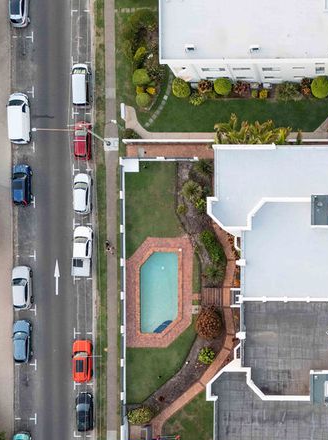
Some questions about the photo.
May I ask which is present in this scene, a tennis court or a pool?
pool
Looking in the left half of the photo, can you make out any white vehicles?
Yes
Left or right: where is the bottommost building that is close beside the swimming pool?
right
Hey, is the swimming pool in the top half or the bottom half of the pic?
bottom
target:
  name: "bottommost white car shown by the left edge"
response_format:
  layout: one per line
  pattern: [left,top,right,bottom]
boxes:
[11,267,34,309]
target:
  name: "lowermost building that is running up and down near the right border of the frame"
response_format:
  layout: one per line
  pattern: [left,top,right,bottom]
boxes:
[205,145,328,440]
